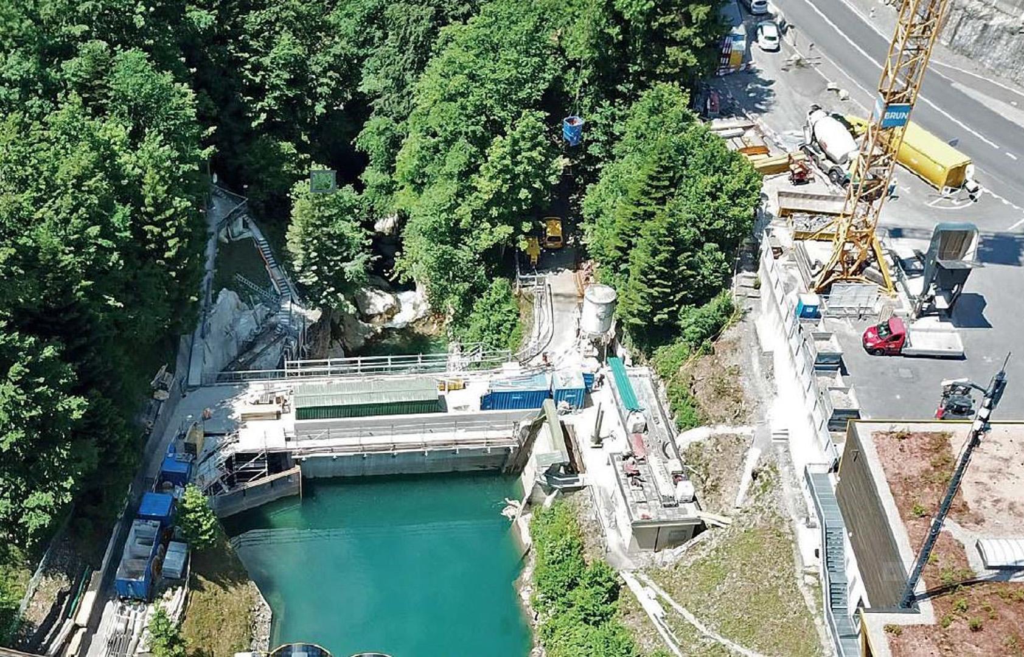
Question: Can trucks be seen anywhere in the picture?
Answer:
Yes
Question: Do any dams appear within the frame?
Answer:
Yes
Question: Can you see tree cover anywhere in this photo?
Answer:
Yes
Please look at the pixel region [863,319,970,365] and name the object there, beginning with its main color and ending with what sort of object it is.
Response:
white truck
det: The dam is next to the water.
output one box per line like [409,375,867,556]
[295,407,525,474]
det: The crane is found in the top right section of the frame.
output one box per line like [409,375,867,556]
[800,0,945,298]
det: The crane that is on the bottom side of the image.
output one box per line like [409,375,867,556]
[522,401,580,494]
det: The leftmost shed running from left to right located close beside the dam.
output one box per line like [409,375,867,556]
[291,375,447,420]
